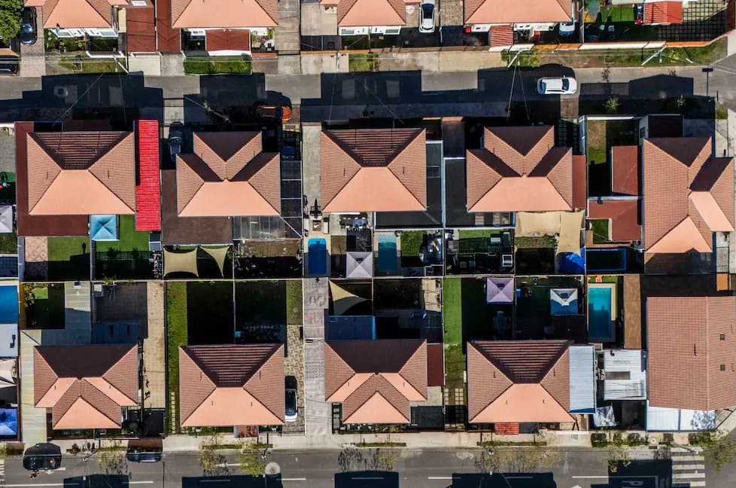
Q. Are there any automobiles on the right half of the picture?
Yes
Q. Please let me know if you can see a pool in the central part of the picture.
Yes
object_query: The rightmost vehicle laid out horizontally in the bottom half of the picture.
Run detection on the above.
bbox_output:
[125,442,167,461]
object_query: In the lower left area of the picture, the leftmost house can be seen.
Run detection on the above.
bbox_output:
[32,343,143,430]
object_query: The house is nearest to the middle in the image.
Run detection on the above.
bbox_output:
[320,127,427,214]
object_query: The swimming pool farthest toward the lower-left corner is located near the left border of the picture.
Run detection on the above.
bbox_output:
[0,283,18,323]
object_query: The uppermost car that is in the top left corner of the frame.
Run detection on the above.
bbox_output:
[19,8,38,46]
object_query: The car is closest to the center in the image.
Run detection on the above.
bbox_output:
[279,125,297,159]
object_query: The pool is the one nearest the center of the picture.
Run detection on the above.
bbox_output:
[376,232,399,275]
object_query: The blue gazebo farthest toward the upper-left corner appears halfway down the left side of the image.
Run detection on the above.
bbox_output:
[91,215,123,242]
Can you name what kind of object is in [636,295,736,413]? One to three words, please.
house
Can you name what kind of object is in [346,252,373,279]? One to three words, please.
gazebo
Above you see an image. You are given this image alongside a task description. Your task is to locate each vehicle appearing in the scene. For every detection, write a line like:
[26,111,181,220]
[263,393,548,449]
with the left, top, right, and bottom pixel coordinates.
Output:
[24,447,65,467]
[166,123,185,161]
[255,103,296,123]
[417,0,436,33]
[285,379,301,419]
[279,125,297,159]
[19,8,38,46]
[556,1,576,40]
[536,74,576,95]
[125,442,167,461]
